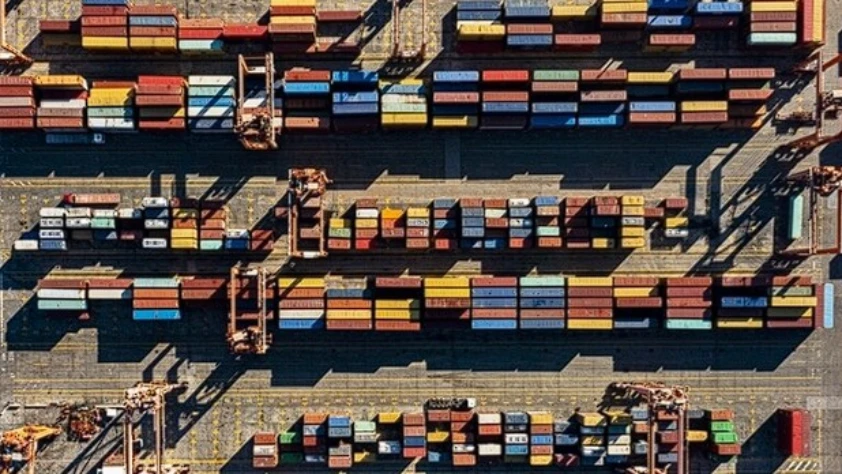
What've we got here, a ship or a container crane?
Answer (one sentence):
There is a container crane in the scene.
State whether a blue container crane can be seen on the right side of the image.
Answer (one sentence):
No, there is no blue container crane on the right side of the image.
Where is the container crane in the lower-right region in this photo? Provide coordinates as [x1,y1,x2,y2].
[618,373,693,474]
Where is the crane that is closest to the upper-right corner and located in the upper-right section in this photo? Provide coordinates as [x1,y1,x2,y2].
[784,46,842,146]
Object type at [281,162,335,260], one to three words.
container crane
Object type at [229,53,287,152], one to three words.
container crane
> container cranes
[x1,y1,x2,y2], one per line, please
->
[120,373,184,474]
[780,162,842,258]
[784,46,842,146]
[0,0,38,59]
[224,260,280,358]
[618,373,693,474]
[281,162,335,260]
[385,0,436,59]
[229,53,287,152]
